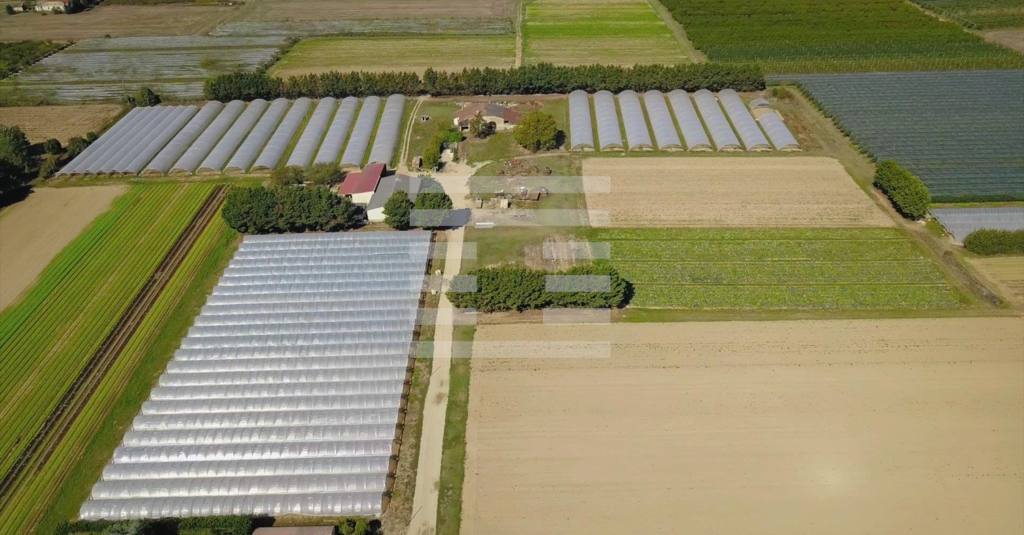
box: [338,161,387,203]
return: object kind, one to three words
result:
barn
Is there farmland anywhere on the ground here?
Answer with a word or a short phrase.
Yes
